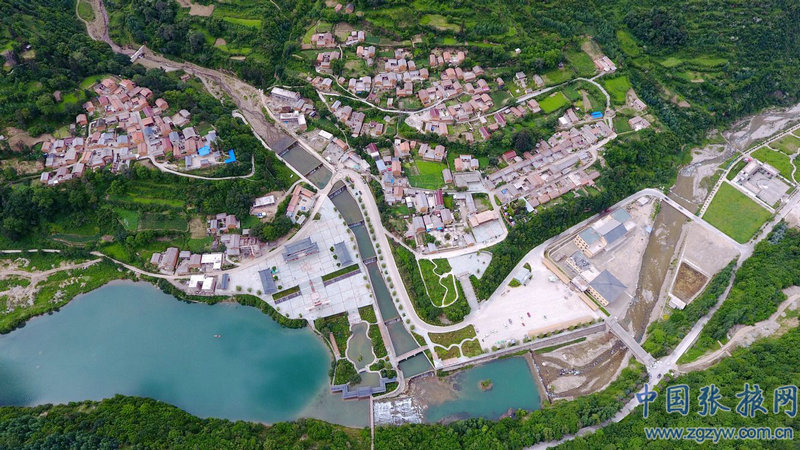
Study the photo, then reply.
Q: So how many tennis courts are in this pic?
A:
zero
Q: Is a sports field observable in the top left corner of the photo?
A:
No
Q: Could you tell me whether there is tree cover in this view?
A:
Yes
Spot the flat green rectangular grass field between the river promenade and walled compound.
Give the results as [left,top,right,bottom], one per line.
[703,184,770,242]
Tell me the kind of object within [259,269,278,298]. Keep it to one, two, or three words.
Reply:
building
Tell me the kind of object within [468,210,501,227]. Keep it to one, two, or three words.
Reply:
house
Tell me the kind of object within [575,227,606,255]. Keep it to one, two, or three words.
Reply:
building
